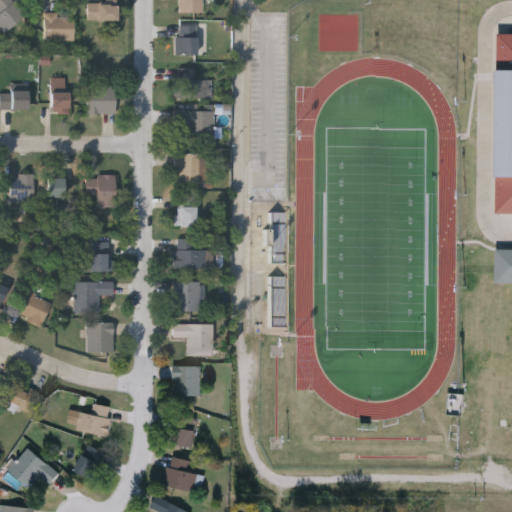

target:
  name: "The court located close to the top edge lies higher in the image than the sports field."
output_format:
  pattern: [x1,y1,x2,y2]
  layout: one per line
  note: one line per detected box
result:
[318,14,359,52]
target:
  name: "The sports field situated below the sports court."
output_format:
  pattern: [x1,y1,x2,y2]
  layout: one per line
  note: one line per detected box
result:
[314,76,438,401]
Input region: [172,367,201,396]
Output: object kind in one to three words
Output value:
building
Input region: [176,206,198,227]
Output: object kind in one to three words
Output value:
house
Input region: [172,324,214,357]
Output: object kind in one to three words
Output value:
house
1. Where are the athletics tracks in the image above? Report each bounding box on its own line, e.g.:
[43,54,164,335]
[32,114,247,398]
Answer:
[296,58,456,420]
